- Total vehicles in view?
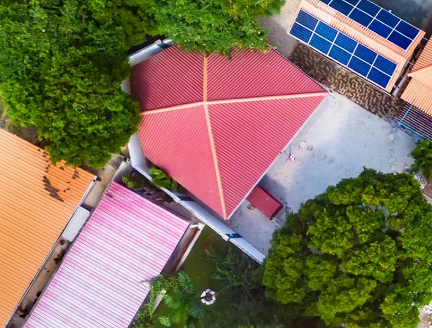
0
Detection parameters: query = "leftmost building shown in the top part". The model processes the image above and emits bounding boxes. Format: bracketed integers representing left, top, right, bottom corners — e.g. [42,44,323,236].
[133,29,331,221]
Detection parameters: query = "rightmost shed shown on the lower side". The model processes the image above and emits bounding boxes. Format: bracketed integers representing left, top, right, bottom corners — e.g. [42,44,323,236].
[248,186,287,217]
